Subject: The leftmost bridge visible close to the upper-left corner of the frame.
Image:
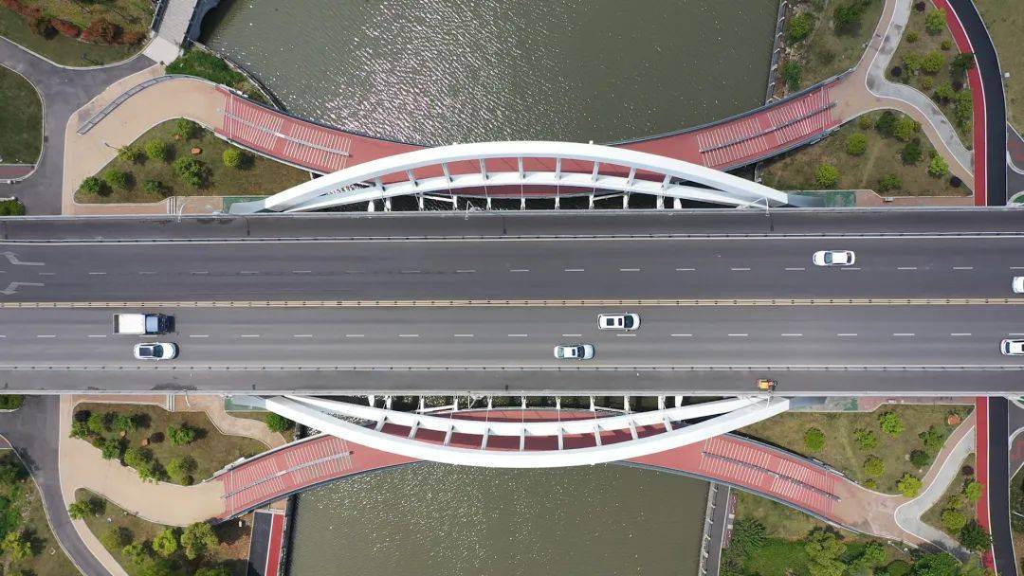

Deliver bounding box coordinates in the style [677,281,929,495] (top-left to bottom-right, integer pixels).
[150,0,210,50]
